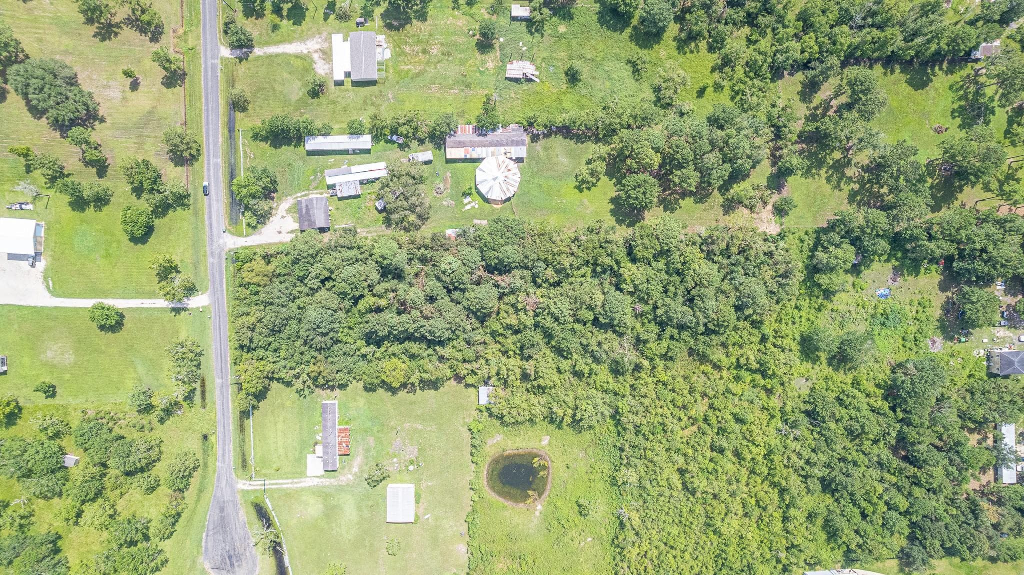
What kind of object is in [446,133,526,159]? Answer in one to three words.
barn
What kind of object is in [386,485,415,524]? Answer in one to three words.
building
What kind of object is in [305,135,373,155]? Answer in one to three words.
house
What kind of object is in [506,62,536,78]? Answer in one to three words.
shed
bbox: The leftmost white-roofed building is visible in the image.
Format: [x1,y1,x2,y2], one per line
[0,218,46,254]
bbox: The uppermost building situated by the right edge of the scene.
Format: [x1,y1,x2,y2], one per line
[970,41,1001,59]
